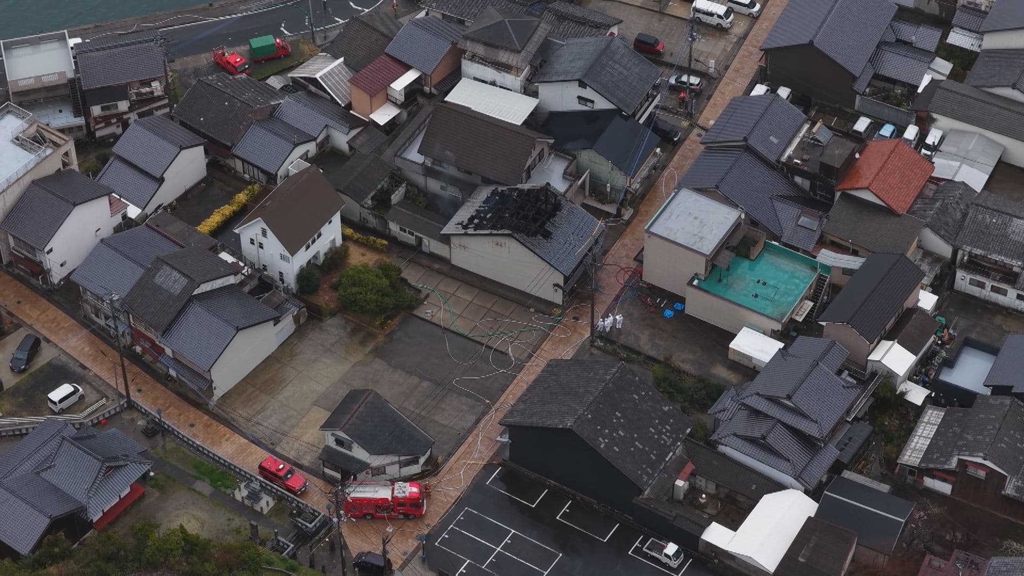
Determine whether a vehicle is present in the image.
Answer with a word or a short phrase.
Yes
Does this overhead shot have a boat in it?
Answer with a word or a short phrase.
No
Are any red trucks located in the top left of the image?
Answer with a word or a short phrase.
Yes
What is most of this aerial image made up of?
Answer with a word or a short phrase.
buildings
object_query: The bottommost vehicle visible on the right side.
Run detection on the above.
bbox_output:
[644,535,685,566]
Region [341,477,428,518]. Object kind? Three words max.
truck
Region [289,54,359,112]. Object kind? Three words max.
shed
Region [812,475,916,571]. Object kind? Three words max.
house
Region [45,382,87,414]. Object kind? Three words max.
car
